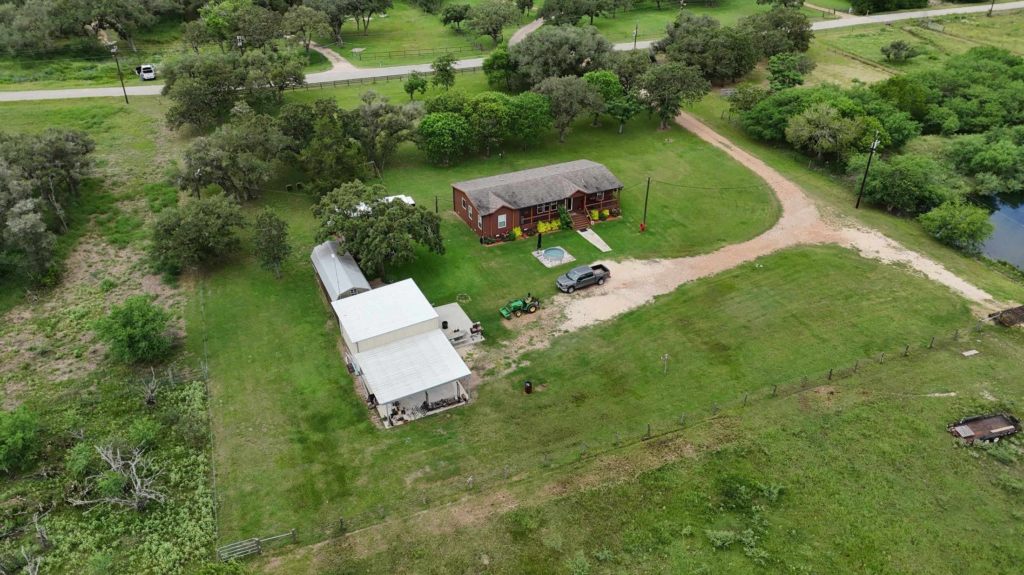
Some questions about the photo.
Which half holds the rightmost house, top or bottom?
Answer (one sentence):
Seen from above, the rightmost house lies in the top half of the view.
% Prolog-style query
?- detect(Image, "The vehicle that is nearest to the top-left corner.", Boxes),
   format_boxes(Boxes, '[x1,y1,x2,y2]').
[138,65,157,79]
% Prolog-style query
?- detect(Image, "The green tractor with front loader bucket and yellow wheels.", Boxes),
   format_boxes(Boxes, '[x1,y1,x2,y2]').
[500,290,545,321]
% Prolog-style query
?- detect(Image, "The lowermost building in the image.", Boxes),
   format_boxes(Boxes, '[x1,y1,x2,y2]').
[330,279,472,430]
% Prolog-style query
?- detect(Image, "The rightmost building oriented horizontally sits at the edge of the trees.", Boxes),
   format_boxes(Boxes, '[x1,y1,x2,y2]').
[449,159,626,243]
